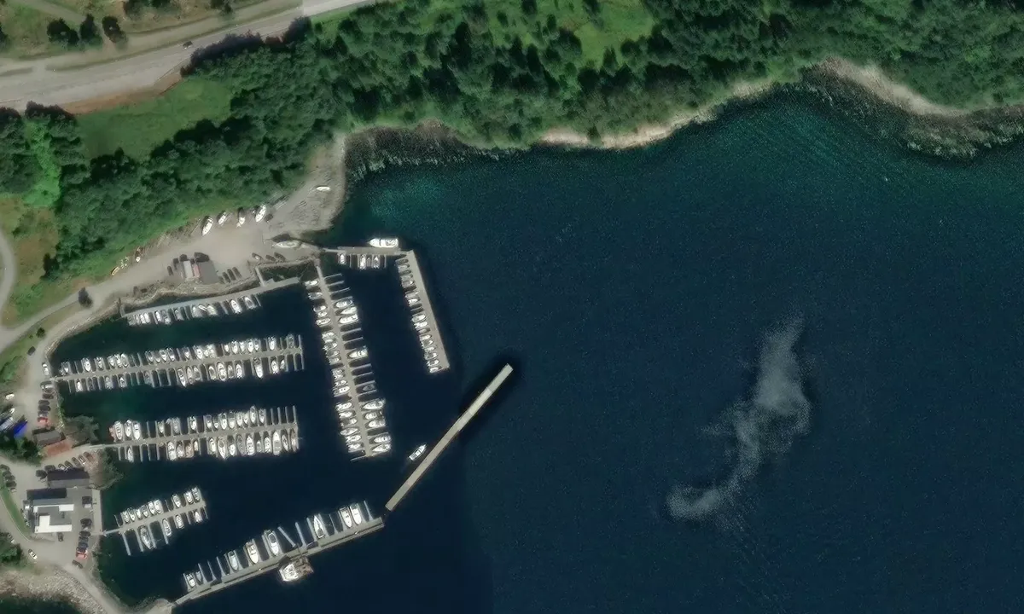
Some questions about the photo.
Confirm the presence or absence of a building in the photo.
Yes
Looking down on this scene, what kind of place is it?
port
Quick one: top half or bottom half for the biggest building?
bottom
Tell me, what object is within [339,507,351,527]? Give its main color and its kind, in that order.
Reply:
white boat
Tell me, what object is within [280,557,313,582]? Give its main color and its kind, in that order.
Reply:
white ship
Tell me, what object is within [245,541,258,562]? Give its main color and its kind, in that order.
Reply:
white boat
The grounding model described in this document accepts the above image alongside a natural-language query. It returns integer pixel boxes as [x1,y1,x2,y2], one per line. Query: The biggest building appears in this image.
[32,498,74,534]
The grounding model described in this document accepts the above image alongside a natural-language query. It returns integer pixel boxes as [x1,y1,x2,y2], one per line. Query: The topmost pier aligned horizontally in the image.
[316,247,409,267]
